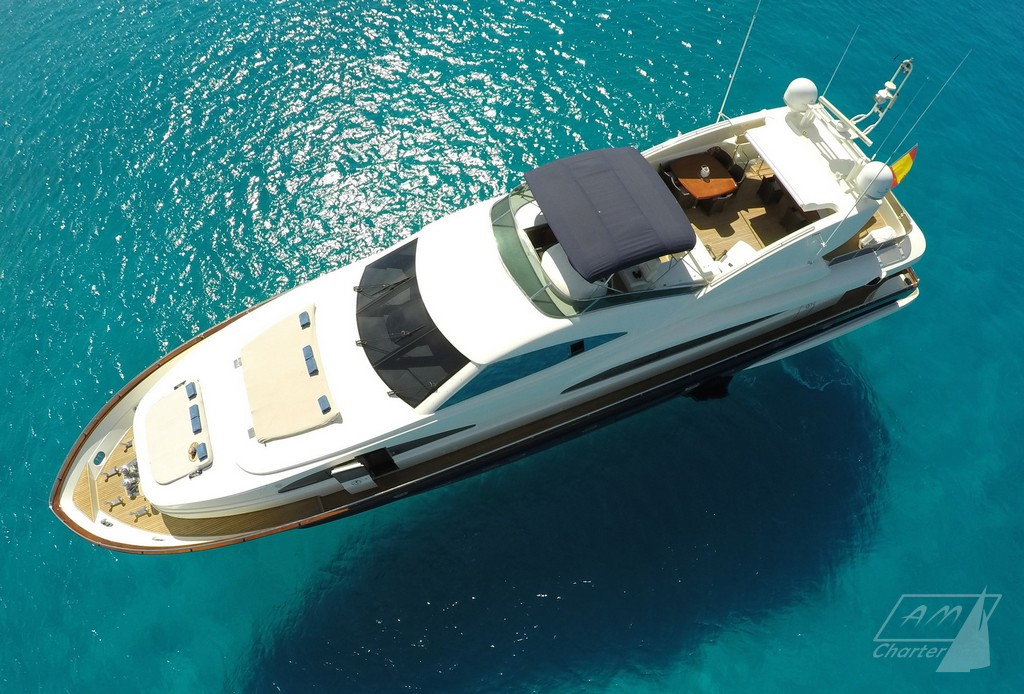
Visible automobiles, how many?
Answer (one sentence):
The photo contains no automobiles.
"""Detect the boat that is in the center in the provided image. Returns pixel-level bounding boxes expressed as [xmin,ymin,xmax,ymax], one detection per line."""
[48,0,970,557]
